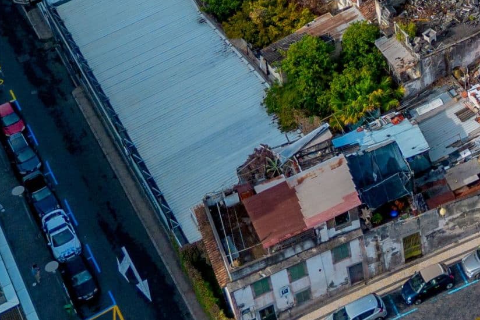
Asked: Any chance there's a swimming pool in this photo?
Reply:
No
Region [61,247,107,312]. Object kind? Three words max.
car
